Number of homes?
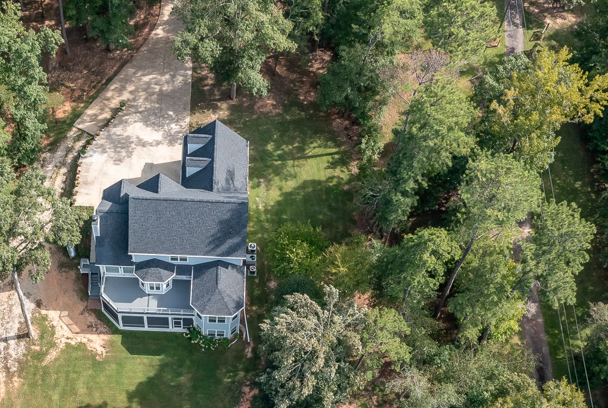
1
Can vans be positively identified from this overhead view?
No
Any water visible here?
No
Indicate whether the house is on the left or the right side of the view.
left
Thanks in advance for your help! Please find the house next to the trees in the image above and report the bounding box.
[84,117,253,363]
